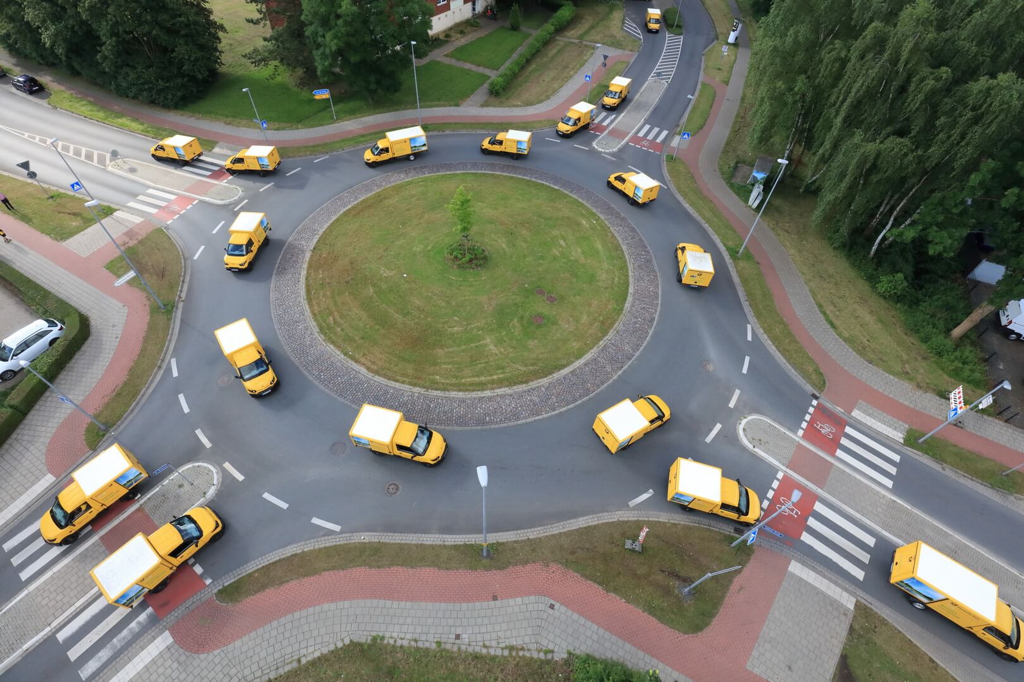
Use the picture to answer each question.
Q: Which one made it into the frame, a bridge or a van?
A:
van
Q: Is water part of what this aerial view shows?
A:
No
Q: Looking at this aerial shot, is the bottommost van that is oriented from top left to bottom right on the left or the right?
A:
right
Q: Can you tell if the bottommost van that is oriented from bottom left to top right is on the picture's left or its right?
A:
left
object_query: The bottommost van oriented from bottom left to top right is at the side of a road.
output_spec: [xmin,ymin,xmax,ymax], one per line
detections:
[92,507,227,611]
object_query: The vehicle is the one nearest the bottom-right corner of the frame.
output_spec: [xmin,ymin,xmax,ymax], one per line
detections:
[888,542,1024,668]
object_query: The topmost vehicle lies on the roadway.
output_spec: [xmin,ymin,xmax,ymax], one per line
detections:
[644,8,662,35]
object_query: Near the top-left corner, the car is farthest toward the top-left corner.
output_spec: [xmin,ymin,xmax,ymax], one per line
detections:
[7,73,41,94]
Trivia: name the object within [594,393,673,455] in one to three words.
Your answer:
van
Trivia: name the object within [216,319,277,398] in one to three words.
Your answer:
van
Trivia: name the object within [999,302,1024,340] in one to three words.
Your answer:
vehicle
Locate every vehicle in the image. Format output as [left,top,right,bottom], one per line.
[644,8,662,35]
[92,507,227,611]
[676,243,714,290]
[594,393,673,455]
[666,459,762,530]
[7,73,41,94]
[363,126,428,166]
[888,542,1024,668]
[223,145,282,177]
[999,302,1024,340]
[220,212,272,272]
[607,170,659,207]
[148,134,205,166]
[36,445,152,548]
[554,101,596,139]
[601,76,632,112]
[480,129,531,159]
[0,310,65,376]
[216,319,277,398]
[351,406,446,469]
